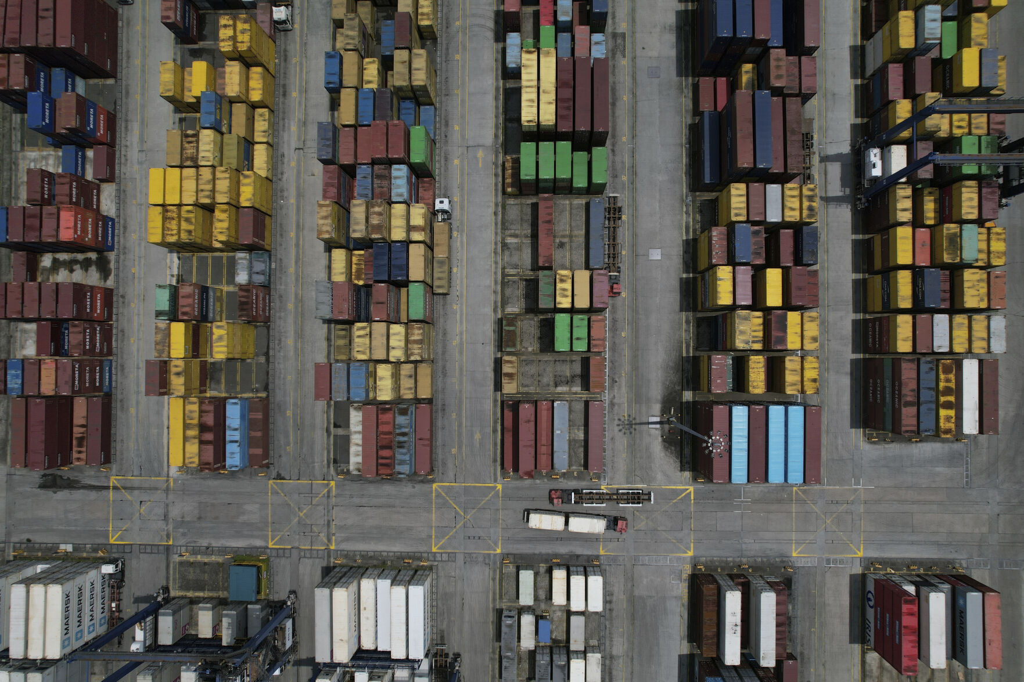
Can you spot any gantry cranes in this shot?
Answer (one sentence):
Yes, looking at the shot, I can spot a gantry crane.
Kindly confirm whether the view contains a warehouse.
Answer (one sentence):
No, I can't see a single warehouse in this photo.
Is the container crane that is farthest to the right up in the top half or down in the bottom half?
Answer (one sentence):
The top half of the photo is where the container crane that is farthest to the right is.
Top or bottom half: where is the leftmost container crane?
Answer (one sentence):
The bottom half of the photo is where the leftmost container crane is.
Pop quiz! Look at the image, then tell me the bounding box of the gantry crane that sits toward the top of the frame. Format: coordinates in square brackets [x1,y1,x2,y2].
[861,96,1024,212]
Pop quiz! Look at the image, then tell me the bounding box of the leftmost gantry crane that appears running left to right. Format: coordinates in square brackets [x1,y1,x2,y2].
[75,589,296,682]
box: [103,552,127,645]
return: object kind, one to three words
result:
truck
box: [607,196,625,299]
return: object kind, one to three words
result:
vehicle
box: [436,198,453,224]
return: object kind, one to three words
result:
vehicle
